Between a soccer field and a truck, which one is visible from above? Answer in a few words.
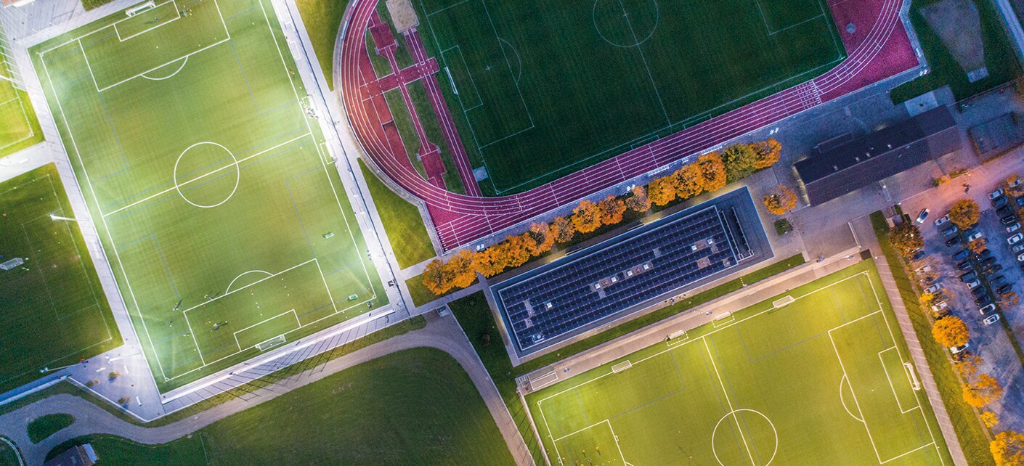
soccer field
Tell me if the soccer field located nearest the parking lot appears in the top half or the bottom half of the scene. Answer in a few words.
bottom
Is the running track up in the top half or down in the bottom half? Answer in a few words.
top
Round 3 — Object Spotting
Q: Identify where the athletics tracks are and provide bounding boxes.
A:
[340,0,919,255]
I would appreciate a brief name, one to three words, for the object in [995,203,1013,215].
vehicle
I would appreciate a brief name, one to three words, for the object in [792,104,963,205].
building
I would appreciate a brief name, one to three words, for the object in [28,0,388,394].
soccer field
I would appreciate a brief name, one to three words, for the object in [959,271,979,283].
vehicle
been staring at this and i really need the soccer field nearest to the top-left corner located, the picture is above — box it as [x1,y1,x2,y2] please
[0,45,45,157]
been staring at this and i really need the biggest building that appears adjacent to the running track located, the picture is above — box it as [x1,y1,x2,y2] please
[489,186,795,359]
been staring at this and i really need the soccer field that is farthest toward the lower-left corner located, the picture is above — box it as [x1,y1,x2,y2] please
[0,162,124,394]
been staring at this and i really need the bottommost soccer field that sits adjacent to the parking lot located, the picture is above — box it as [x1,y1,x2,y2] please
[524,258,955,466]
